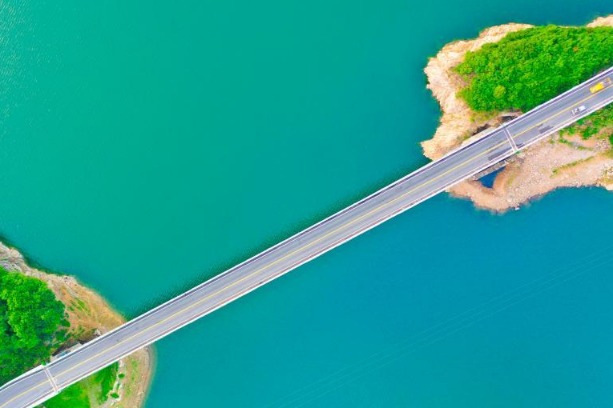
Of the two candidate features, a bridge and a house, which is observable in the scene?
bridge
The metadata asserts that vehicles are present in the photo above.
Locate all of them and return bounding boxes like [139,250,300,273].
[587,77,612,95]
[569,103,587,116]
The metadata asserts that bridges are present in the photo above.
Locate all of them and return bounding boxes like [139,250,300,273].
[43,124,520,394]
